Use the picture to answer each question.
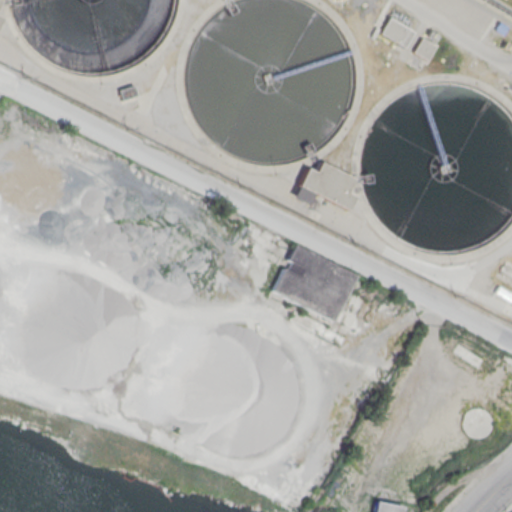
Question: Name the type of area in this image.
industrial area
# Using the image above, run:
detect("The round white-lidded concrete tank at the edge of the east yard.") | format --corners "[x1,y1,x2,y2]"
[460,408,492,440]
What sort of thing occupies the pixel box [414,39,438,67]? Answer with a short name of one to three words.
building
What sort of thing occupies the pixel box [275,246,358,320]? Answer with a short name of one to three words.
building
